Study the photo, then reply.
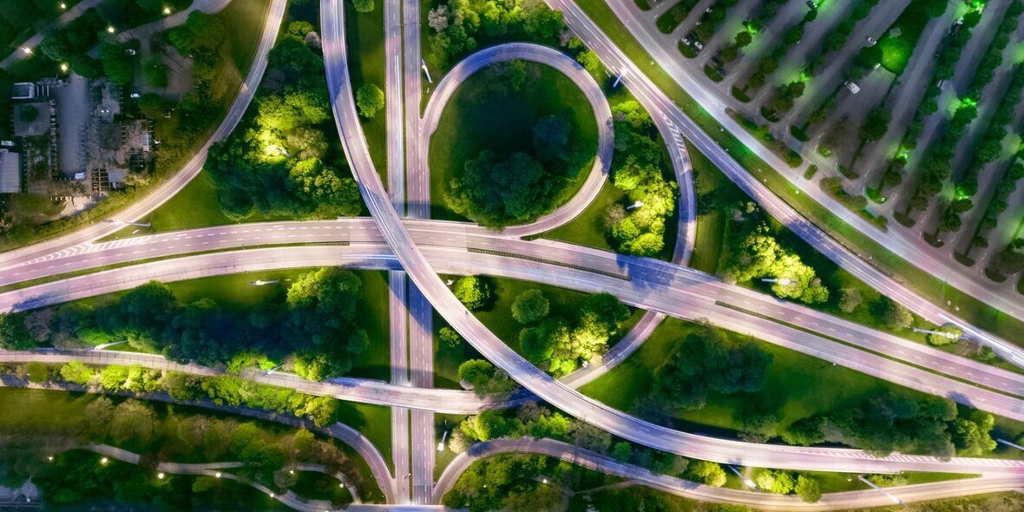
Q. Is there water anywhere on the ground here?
No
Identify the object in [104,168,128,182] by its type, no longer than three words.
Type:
shed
